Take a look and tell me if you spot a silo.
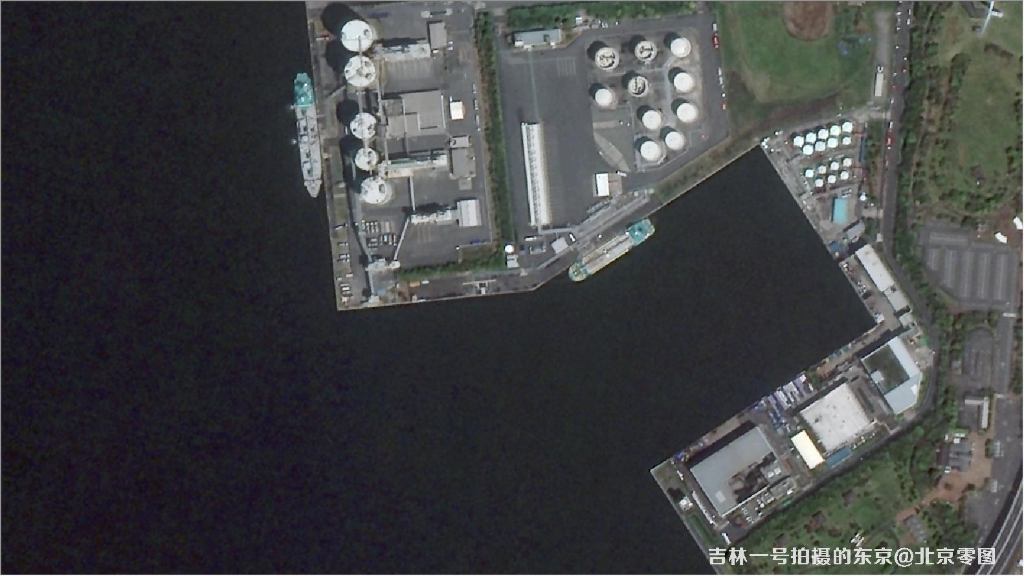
Yes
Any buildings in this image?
Yes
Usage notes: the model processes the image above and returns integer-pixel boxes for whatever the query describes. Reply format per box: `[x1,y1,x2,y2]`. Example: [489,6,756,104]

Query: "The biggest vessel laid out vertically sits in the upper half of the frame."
[294,70,326,197]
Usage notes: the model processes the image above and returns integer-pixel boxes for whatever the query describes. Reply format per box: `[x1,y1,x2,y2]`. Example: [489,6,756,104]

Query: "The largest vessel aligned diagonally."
[557,214,655,281]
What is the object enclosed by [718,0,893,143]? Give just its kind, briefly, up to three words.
sports field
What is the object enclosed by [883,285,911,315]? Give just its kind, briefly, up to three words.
building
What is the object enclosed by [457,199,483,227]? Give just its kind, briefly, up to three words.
shed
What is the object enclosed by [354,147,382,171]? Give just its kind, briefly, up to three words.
silo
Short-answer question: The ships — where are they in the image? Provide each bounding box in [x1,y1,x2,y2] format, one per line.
[557,214,655,281]
[294,70,326,197]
